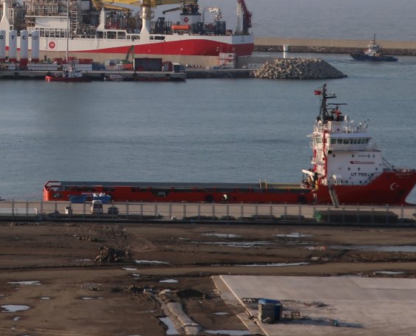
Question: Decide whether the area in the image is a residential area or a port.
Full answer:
The area seen from above is a port.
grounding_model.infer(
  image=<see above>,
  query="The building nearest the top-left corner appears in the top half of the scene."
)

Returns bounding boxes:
[133,58,162,73]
